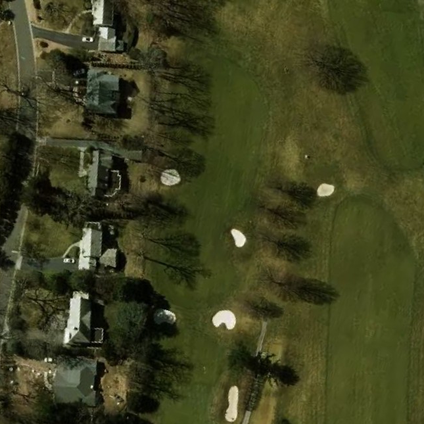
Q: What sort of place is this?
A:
golf course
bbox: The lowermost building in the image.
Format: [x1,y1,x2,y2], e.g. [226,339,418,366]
[54,357,99,407]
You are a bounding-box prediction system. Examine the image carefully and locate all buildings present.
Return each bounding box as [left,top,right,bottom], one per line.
[54,357,99,407]
[87,68,119,116]
[92,0,124,51]
[80,222,117,270]
[88,149,121,196]
[64,292,104,345]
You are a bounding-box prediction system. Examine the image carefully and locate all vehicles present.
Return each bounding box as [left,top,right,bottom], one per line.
[64,258,75,263]
[82,37,93,42]
[74,69,84,76]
